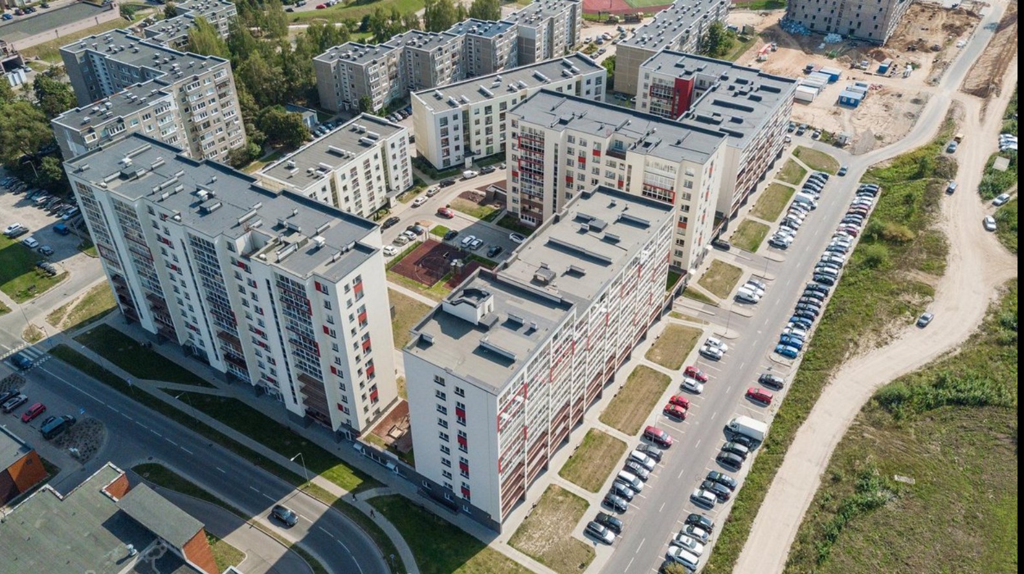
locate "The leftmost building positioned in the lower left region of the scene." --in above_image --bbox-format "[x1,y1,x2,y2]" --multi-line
[0,425,46,501]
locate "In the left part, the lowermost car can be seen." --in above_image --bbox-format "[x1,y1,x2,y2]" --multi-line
[271,504,299,528]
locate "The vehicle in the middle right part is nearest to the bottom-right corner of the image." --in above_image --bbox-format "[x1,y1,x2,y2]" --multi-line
[914,314,936,327]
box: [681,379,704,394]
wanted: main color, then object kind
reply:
white car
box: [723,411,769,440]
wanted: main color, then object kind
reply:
white truck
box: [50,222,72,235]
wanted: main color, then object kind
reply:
blue vehicle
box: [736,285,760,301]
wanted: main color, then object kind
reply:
white vehicle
